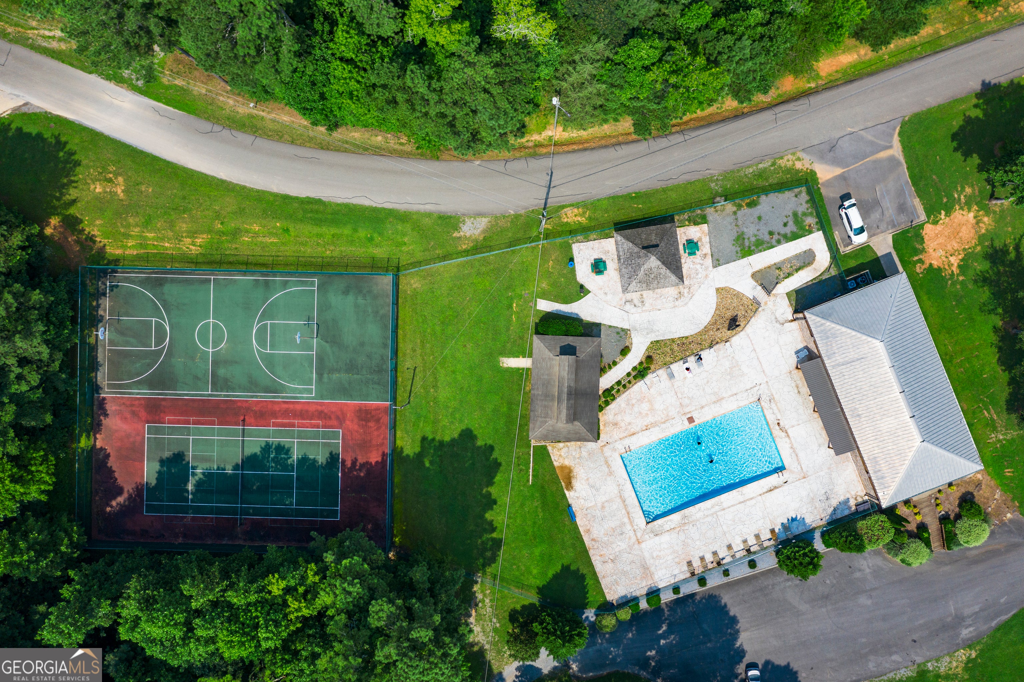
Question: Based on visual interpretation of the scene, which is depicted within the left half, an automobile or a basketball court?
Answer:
basketball court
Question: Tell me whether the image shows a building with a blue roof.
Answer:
No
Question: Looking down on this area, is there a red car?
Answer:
No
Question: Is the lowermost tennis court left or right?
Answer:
left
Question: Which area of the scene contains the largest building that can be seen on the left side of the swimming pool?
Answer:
center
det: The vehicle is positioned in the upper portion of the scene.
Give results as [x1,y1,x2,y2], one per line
[840,201,867,246]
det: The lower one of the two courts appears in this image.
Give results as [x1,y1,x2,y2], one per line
[91,395,393,550]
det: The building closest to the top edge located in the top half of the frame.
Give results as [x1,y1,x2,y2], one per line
[613,222,685,294]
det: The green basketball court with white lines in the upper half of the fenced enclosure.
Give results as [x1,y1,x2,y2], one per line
[95,268,399,402]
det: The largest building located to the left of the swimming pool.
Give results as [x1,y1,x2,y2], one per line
[529,334,602,443]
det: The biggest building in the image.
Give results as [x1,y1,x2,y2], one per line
[795,270,985,509]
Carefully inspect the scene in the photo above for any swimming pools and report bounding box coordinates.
[619,399,787,525]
